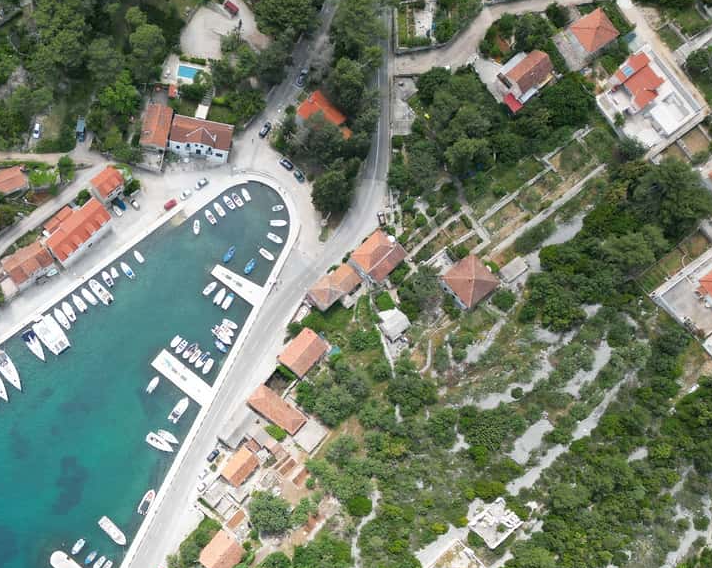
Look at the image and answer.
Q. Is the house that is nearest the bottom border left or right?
left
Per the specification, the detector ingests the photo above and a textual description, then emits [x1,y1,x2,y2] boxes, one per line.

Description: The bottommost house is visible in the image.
[199,530,243,568]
